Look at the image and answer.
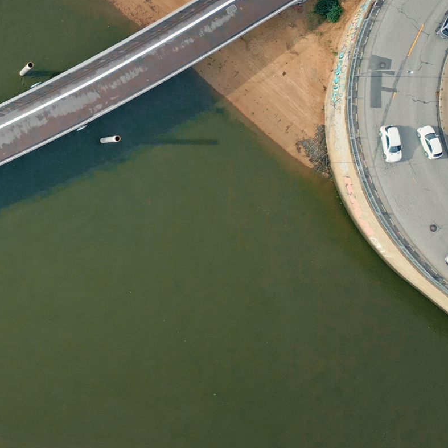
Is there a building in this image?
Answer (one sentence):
No, there's no building here.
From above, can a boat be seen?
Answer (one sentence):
No, there is no boat in the image.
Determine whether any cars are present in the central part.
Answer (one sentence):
No, no car appears in the central part.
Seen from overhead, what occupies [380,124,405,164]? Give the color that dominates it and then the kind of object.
white car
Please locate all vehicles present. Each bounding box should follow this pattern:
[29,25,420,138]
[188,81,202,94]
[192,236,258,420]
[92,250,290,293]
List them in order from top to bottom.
[437,10,448,42]
[418,123,447,161]
[380,124,405,164]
